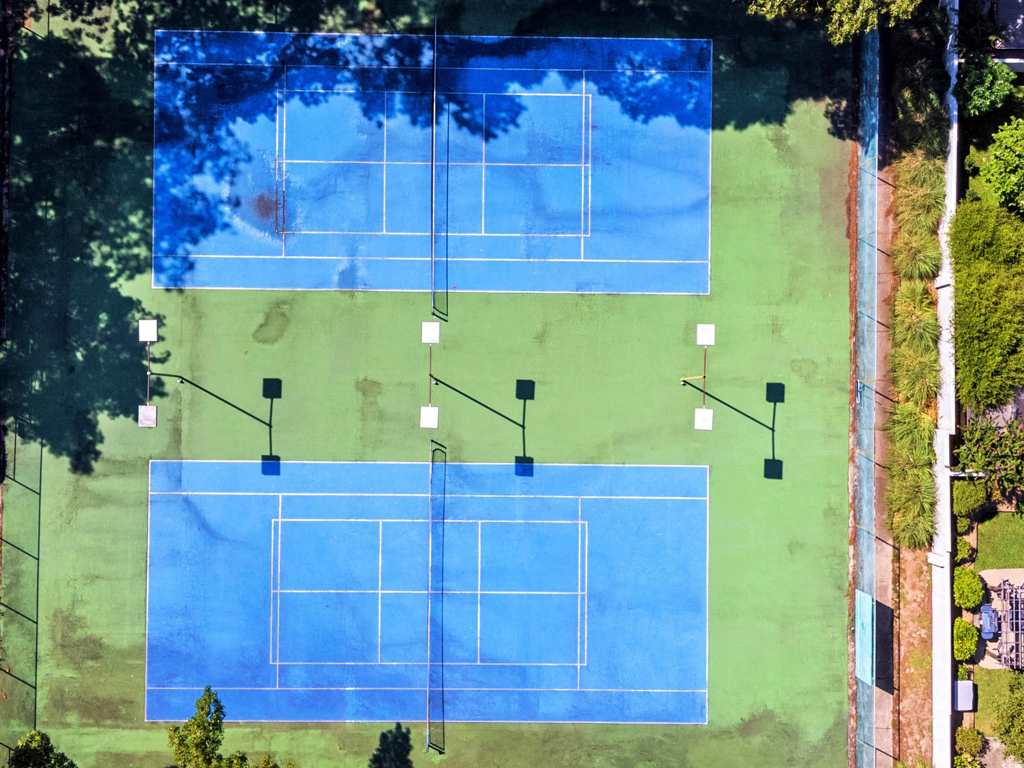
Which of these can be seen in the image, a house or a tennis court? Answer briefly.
tennis court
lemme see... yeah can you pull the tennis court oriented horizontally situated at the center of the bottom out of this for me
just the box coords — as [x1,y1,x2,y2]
[146,461,709,724]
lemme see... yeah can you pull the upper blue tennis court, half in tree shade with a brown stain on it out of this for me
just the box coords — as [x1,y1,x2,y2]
[151,30,712,294]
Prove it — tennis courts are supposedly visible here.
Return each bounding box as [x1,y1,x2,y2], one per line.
[151,30,712,294]
[146,461,709,724]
